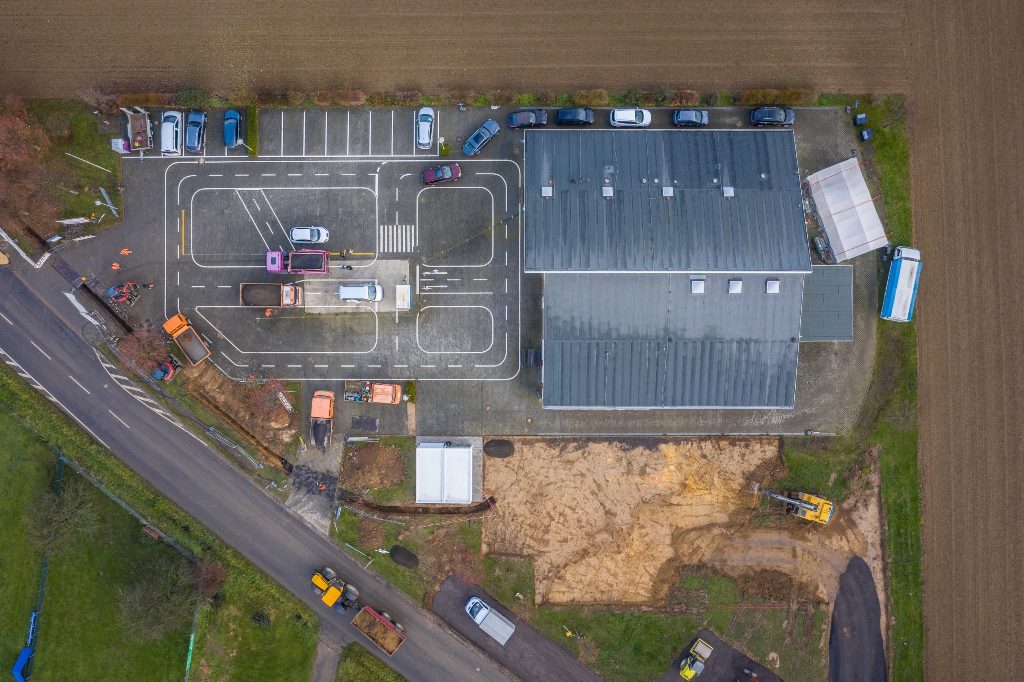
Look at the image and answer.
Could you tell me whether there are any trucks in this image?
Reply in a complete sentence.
Yes, the picture does show a truck.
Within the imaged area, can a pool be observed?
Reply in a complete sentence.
No, I can't see a single pool in this photo.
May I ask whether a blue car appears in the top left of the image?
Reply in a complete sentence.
Yes, a blue car shows up in the top left of the image.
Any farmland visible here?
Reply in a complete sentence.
Yes, farmland can be seen from above here.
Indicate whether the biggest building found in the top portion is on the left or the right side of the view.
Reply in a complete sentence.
The biggest building found in the top portion is on the right side of the image.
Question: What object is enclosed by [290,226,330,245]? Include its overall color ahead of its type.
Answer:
white car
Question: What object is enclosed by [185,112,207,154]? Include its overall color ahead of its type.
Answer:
blue car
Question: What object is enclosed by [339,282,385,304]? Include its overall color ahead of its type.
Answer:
white vehicle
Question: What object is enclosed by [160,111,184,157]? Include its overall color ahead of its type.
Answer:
white vehicle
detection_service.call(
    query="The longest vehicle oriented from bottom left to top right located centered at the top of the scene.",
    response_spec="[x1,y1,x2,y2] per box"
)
[461,119,500,159]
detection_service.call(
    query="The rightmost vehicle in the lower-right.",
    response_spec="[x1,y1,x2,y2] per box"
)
[743,477,835,524]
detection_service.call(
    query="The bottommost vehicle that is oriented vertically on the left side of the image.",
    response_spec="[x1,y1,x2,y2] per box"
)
[310,389,335,448]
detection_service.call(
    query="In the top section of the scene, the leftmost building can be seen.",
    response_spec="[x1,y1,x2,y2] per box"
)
[520,128,812,410]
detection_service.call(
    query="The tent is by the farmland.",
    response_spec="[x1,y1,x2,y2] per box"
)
[801,158,894,265]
